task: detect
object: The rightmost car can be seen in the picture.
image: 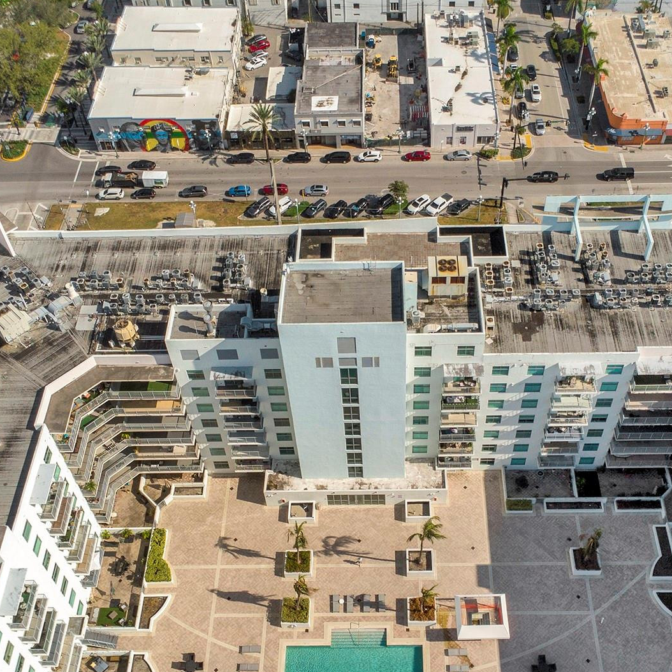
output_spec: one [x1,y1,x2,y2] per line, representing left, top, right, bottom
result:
[604,167,633,182]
